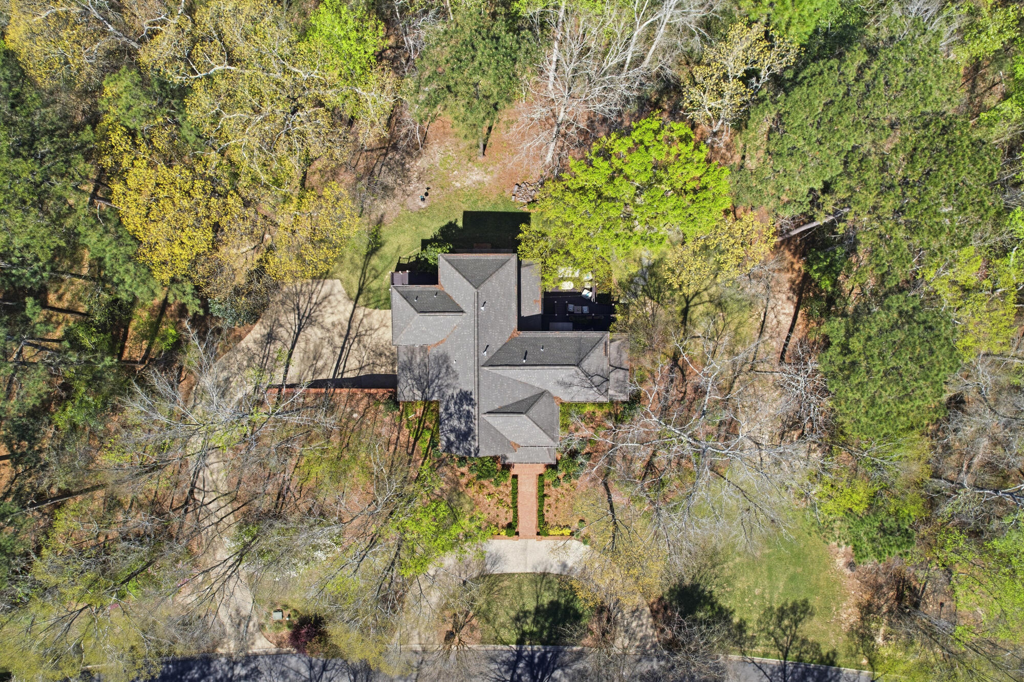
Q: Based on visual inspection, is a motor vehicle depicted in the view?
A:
No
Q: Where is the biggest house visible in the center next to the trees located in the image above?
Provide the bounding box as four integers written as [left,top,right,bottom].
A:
[390,252,631,466]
